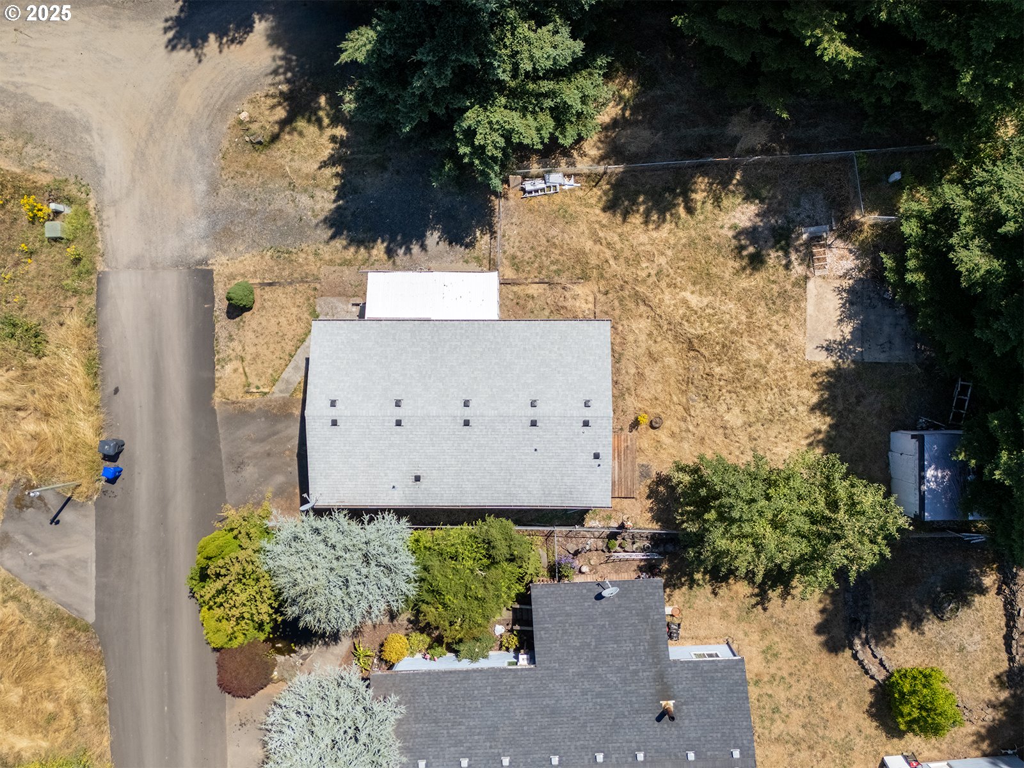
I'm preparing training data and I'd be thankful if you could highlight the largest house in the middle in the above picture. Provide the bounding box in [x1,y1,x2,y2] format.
[302,317,615,512]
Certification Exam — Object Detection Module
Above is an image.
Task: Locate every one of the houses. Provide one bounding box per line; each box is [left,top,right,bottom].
[367,573,761,768]
[302,317,615,512]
